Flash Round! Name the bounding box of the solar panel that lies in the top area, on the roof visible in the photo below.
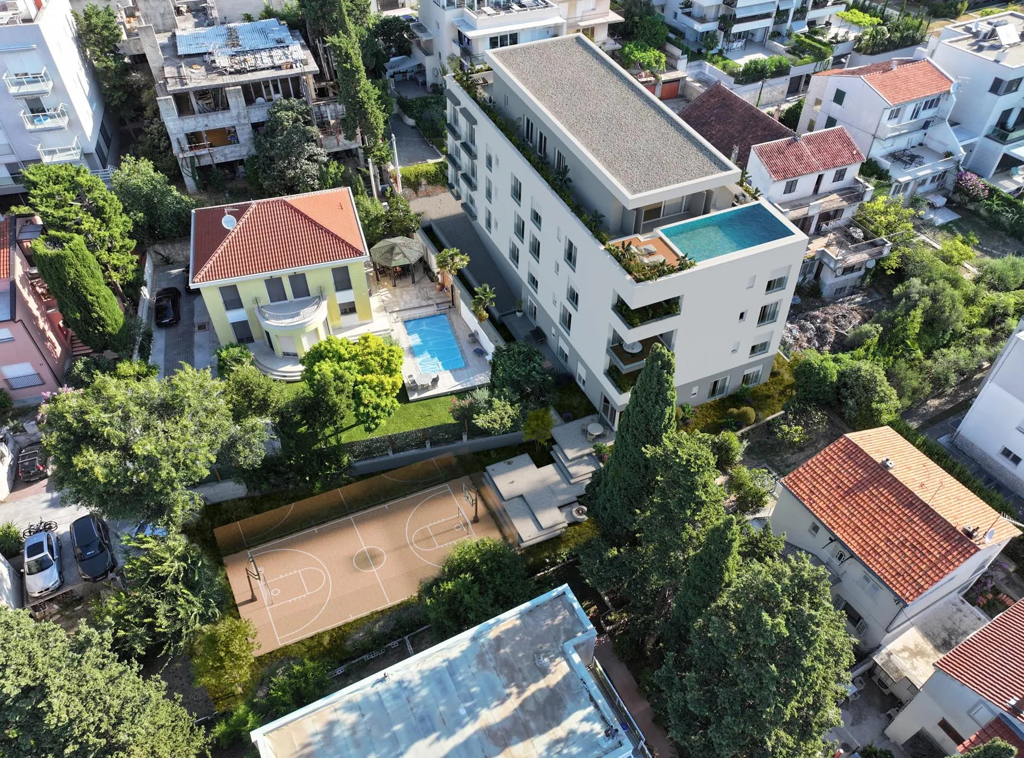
[977,34,1018,60]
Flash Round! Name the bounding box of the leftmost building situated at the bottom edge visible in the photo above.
[250,584,629,758]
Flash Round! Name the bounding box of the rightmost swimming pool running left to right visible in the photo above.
[669,209,793,261]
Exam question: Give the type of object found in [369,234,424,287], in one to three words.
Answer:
gazebo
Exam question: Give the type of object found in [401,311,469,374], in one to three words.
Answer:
swimming pool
